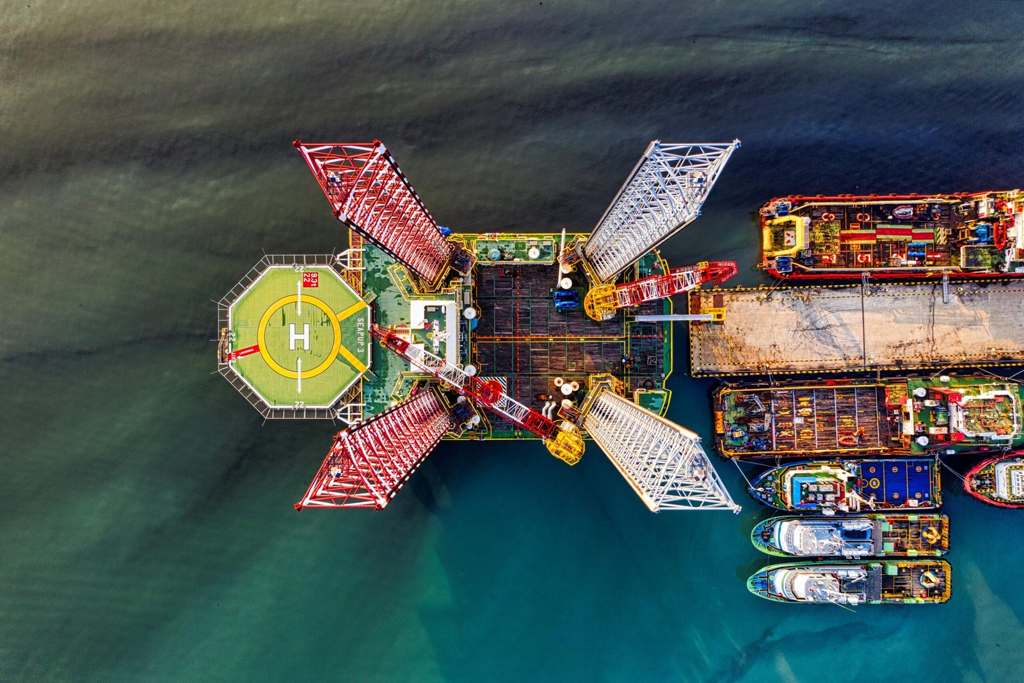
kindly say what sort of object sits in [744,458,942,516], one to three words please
boat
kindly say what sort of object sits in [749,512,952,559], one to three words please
boat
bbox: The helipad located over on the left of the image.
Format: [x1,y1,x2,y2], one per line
[209,247,378,426]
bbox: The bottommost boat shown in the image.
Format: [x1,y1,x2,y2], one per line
[744,558,954,613]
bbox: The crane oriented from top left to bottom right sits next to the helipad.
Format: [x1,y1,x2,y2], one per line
[367,323,584,460]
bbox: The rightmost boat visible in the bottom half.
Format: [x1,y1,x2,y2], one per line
[953,448,1024,511]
